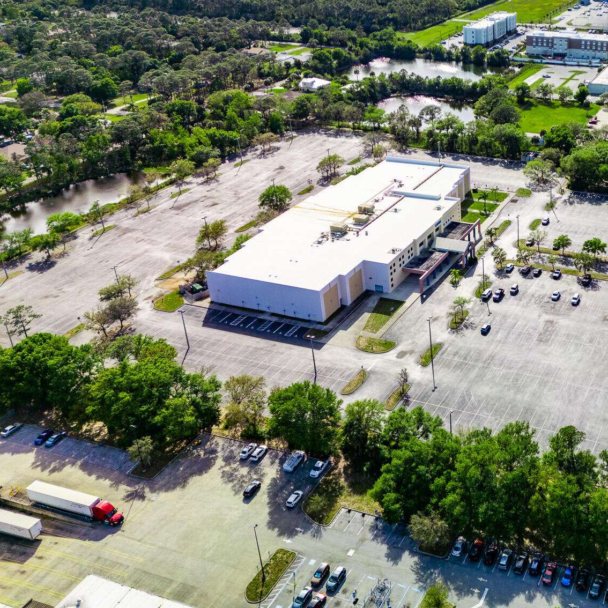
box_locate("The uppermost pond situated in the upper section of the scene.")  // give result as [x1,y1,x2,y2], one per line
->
[342,57,525,84]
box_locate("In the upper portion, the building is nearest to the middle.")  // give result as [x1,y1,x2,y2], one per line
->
[209,153,479,321]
